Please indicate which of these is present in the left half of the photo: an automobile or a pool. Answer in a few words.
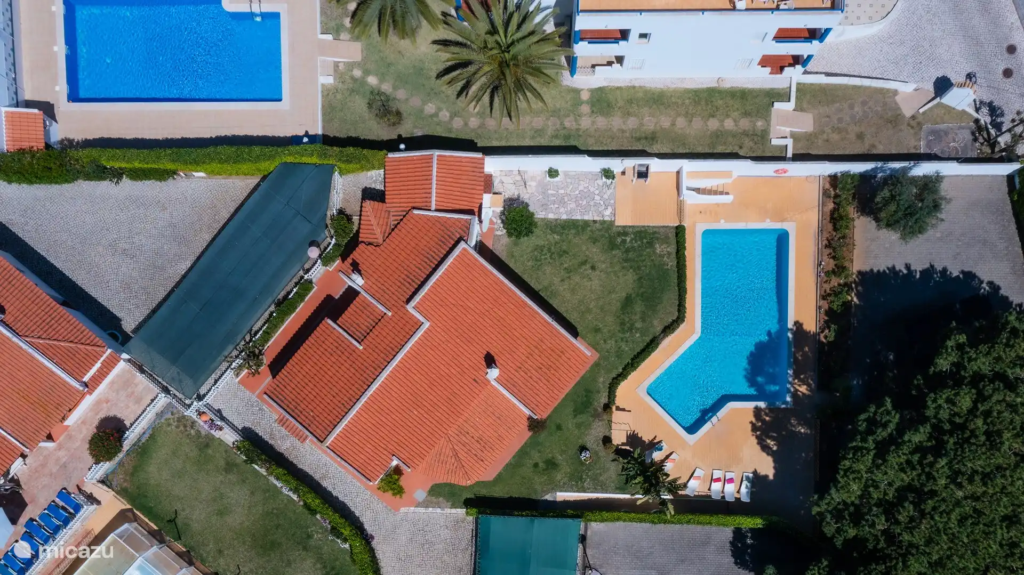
pool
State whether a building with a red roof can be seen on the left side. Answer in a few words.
Yes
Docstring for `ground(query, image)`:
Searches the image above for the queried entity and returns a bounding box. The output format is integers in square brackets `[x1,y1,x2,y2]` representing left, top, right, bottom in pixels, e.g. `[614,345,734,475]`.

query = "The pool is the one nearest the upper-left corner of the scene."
[57,0,289,109]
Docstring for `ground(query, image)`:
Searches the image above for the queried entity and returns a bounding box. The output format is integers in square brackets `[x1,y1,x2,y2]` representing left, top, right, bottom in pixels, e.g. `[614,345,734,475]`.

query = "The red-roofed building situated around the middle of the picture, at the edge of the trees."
[262,149,593,485]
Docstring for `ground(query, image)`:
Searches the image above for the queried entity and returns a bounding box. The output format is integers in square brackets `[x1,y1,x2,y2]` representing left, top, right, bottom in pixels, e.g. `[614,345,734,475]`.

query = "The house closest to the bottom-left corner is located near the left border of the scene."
[0,241,144,480]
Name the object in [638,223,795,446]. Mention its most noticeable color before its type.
blue swimming pool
